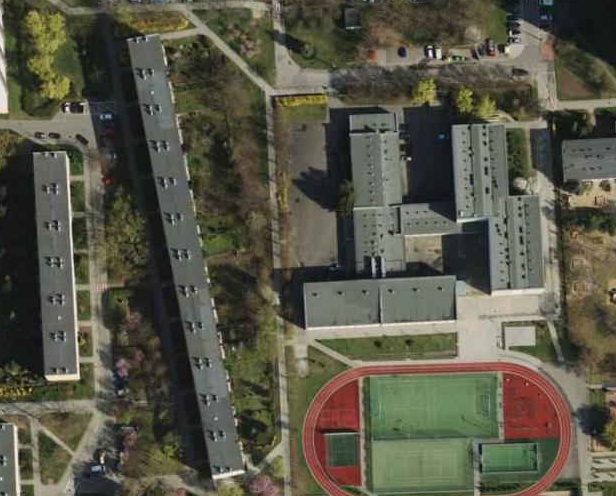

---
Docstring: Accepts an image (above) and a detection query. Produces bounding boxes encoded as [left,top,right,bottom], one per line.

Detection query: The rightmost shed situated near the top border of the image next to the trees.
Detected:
[345,8,361,30]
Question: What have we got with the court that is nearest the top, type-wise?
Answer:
basketball court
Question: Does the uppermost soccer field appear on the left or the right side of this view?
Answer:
right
